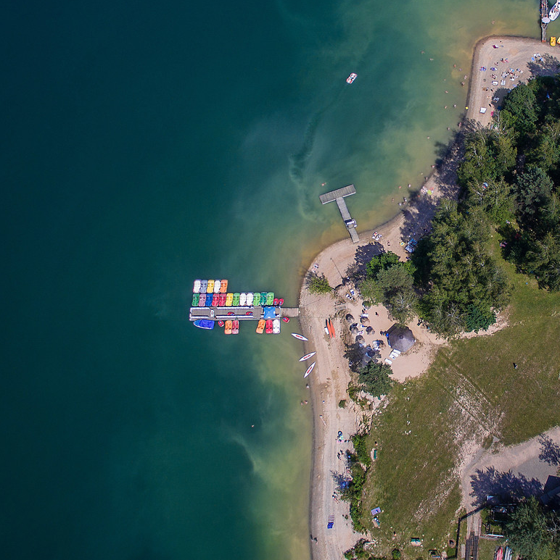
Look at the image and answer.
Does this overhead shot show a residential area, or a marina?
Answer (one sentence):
The picture captures a marina.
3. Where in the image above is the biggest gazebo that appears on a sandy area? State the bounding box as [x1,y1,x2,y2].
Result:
[385,324,416,354]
